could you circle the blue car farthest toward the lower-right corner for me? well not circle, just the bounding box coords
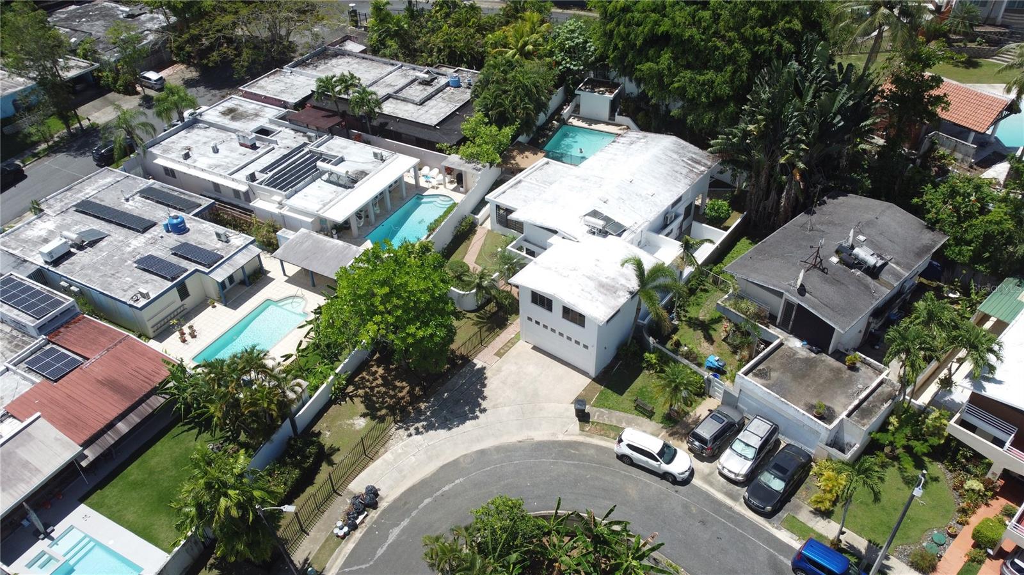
[786,529,866,575]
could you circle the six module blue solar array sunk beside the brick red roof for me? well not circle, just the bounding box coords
[24,345,82,382]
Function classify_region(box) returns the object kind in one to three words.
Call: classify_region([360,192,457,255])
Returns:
swimming pool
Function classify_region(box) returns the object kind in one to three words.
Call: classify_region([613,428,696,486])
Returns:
car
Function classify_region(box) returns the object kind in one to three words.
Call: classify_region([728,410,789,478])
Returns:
car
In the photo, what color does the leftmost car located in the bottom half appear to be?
white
